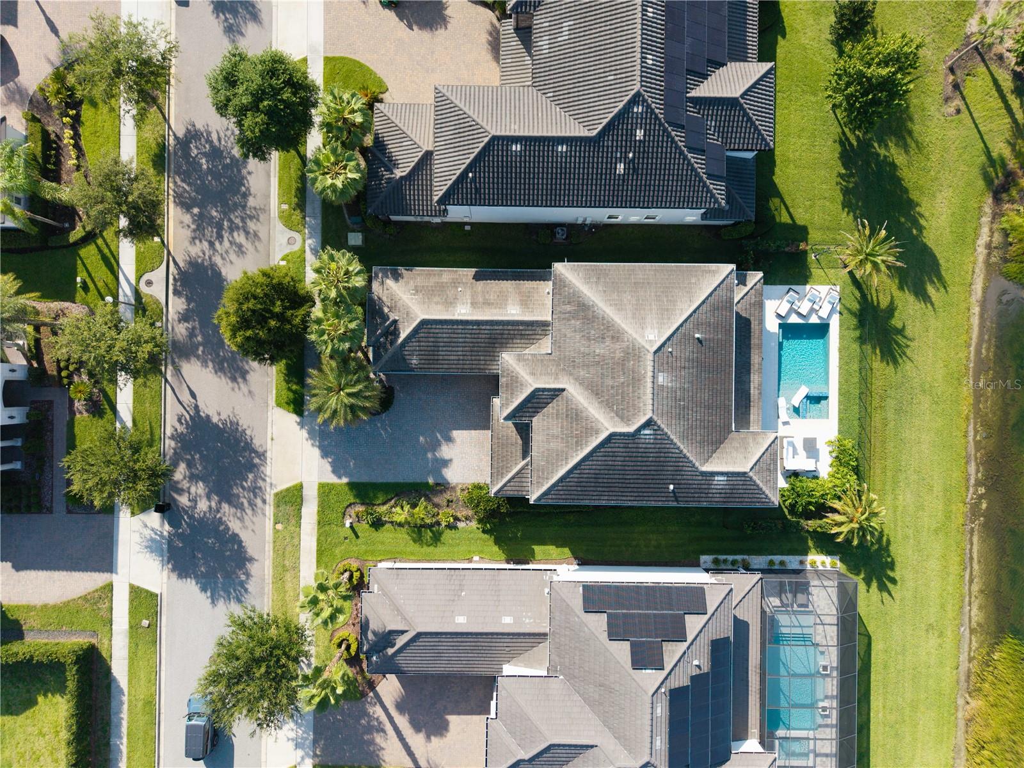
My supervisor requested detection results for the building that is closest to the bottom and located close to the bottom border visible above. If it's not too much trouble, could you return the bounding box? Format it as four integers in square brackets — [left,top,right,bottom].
[360,564,778,768]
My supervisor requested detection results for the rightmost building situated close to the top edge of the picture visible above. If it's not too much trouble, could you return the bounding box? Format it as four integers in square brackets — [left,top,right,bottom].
[366,0,776,226]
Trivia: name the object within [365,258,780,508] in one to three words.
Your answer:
house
